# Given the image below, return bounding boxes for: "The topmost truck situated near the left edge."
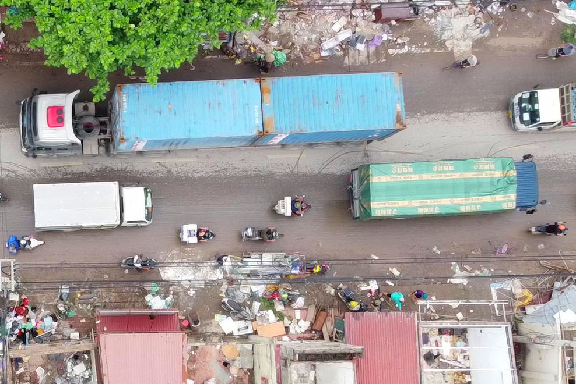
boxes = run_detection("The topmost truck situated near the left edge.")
[16,81,157,154]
